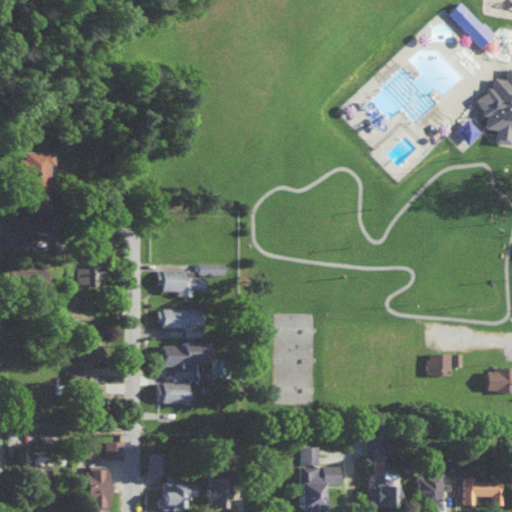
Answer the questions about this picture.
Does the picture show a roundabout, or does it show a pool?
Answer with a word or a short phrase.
pool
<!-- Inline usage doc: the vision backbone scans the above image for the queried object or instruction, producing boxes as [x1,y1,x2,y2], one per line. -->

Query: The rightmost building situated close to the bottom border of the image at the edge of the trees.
[462,478,505,507]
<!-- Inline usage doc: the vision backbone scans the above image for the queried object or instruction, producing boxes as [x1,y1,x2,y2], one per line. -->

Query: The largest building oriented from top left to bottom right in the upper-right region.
[452,3,496,49]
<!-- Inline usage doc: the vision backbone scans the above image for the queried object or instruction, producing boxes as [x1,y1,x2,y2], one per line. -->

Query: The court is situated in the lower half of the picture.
[272,313,314,404]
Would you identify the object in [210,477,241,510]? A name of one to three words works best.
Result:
house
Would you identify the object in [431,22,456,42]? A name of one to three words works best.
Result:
swimming pool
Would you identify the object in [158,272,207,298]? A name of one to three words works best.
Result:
house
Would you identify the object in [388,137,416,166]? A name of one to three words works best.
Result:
swimming pool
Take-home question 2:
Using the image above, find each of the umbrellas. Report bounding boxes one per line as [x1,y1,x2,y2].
[345,106,357,117]
[419,35,430,46]
[461,35,472,47]
[440,125,451,137]
[486,41,498,53]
